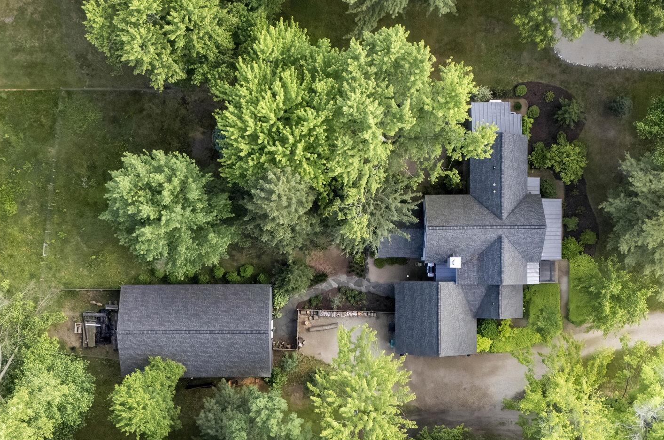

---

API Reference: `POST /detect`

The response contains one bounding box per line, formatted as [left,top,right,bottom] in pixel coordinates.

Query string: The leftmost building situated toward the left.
[117,284,273,378]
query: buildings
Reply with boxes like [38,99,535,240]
[117,284,273,378]
[378,102,562,358]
